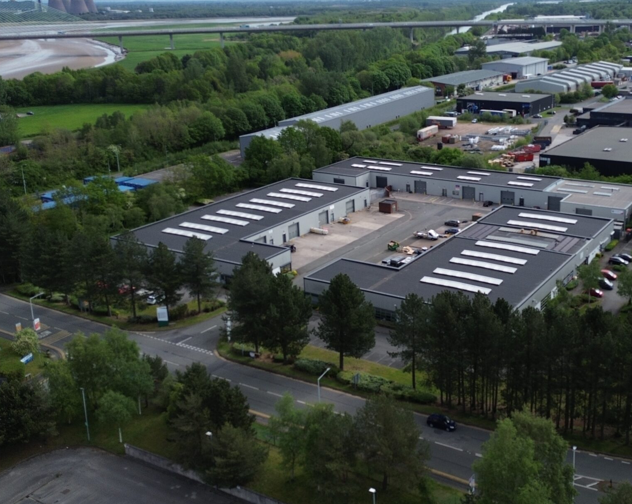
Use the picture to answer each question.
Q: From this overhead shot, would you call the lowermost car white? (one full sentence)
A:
No, the lowermost car is black.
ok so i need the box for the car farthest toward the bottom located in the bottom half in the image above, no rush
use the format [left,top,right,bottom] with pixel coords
[424,412,459,432]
